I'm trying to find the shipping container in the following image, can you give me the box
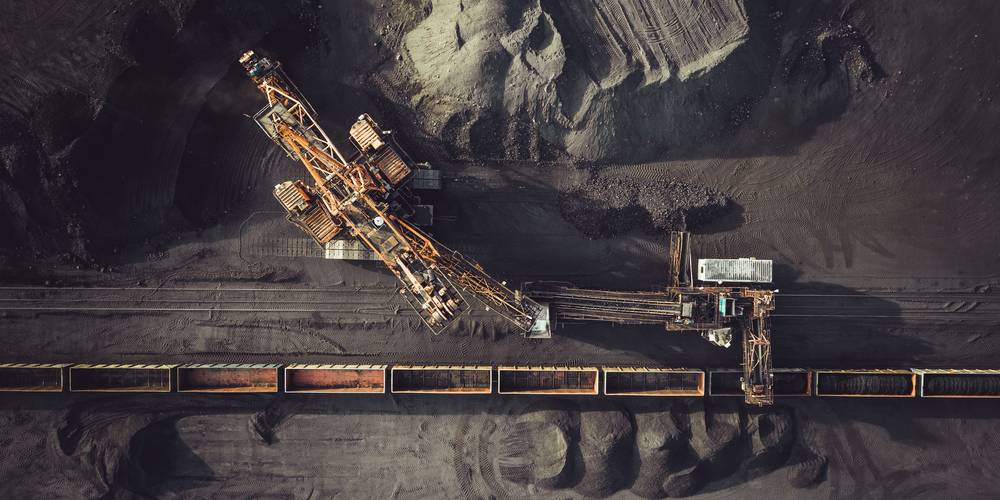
[691,258,772,283]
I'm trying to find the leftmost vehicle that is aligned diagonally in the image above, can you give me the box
[231,43,549,334]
